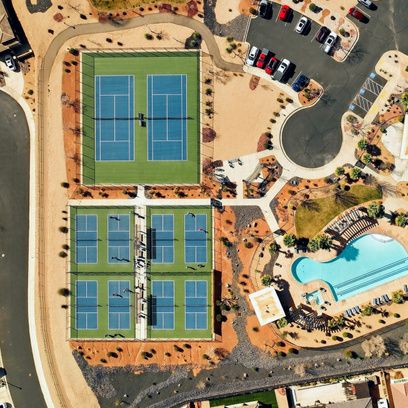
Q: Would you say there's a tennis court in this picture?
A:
Yes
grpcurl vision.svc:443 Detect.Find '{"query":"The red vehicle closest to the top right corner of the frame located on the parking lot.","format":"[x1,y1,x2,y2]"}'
[349,9,367,22]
